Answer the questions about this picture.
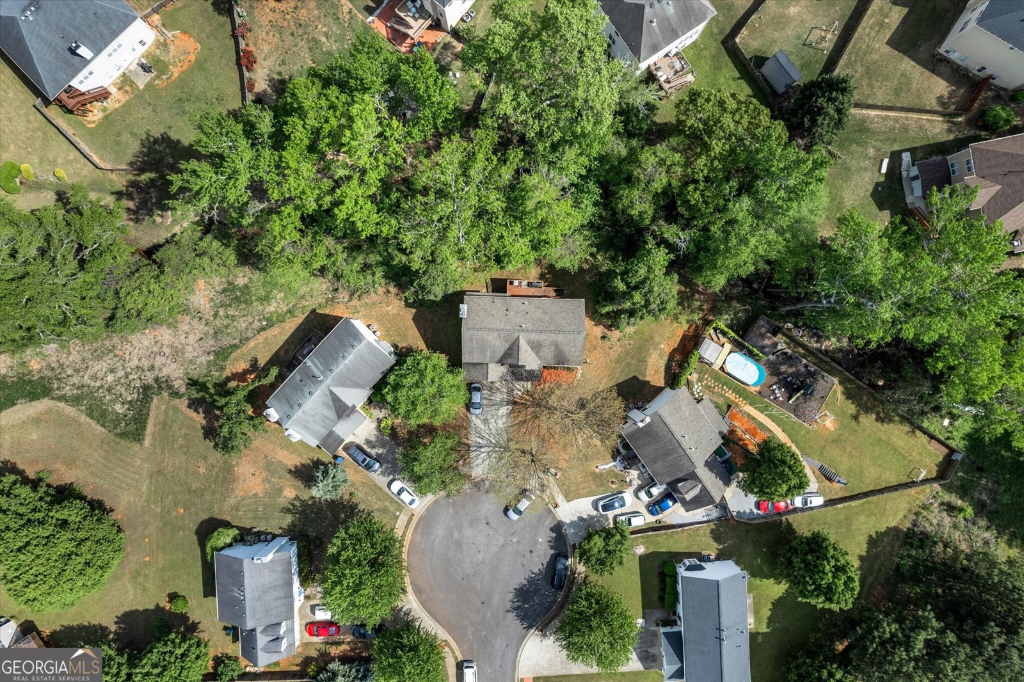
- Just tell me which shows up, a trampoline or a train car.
trampoline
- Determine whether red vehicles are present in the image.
Yes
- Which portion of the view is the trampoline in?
right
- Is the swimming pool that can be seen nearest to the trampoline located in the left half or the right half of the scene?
right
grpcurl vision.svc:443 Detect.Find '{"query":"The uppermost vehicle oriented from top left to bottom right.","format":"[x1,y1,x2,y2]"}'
[349,443,379,473]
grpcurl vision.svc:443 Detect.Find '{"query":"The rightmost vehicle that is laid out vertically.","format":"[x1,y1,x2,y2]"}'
[552,554,567,588]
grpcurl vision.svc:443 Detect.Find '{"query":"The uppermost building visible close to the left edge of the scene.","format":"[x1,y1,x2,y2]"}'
[0,0,156,101]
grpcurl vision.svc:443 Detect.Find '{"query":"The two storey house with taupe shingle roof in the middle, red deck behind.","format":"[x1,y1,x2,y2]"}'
[459,293,585,382]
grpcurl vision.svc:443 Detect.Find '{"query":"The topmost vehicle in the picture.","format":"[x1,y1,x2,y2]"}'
[468,383,483,414]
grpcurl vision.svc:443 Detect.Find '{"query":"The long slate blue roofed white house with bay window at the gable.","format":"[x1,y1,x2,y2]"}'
[657,558,751,682]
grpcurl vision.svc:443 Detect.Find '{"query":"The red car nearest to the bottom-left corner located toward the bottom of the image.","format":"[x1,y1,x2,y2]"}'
[307,622,340,638]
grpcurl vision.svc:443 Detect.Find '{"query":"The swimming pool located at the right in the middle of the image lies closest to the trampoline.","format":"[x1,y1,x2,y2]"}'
[725,351,769,388]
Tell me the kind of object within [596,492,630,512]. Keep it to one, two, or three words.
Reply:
car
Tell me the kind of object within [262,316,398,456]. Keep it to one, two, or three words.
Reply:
house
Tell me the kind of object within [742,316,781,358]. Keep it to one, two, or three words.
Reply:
shed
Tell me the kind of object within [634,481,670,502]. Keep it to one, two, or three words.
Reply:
truck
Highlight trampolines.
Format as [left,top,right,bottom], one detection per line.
[794,400,822,425]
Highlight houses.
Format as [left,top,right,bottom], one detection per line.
[262,316,398,456]
[216,539,304,667]
[657,558,751,682]
[596,0,717,73]
[406,0,475,31]
[0,0,156,101]
[619,387,730,513]
[0,614,21,672]
[944,0,1024,90]
[459,293,585,382]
